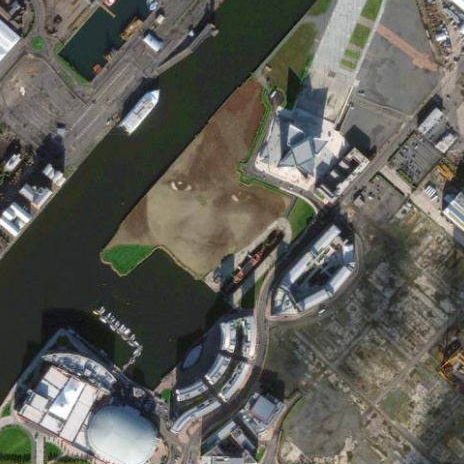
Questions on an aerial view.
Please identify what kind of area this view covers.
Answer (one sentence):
What you see here is a port.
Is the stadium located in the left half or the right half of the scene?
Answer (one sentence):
The stadium is on the left side of the image.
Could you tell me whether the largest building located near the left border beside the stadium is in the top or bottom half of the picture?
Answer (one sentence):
The bottom half of the photo is where the largest building located near the left border beside the stadium is.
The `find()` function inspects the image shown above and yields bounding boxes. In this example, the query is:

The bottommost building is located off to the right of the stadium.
[200,420,257,464]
